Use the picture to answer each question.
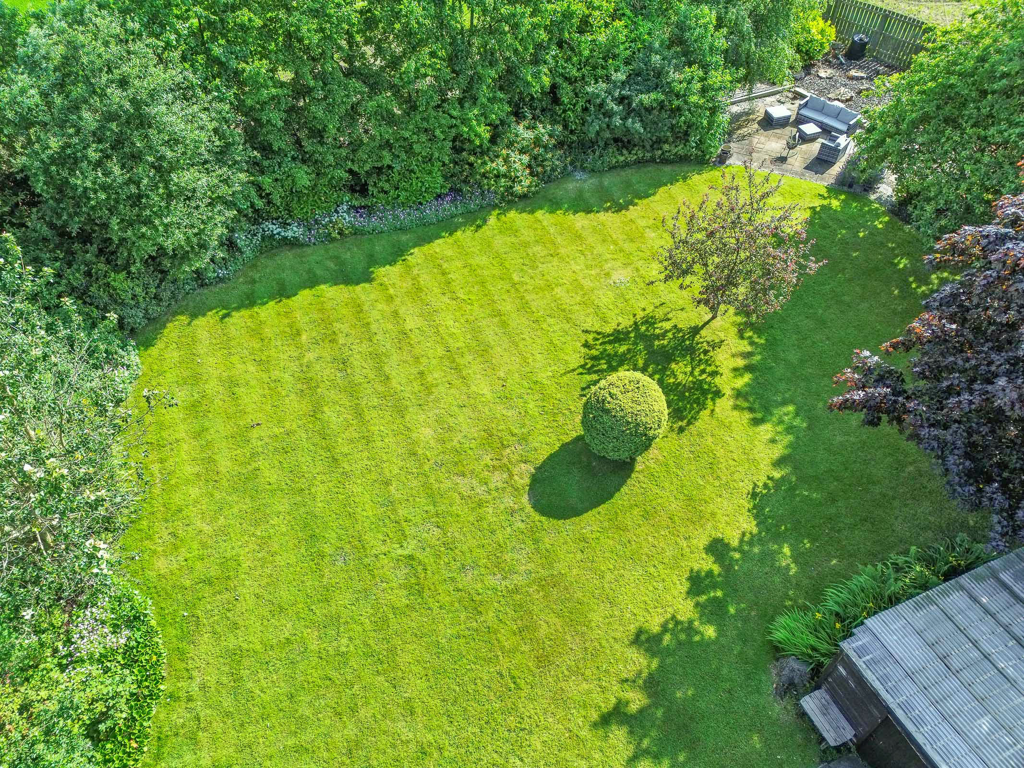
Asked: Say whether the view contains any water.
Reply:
No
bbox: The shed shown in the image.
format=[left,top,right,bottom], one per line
[813,548,1024,768]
